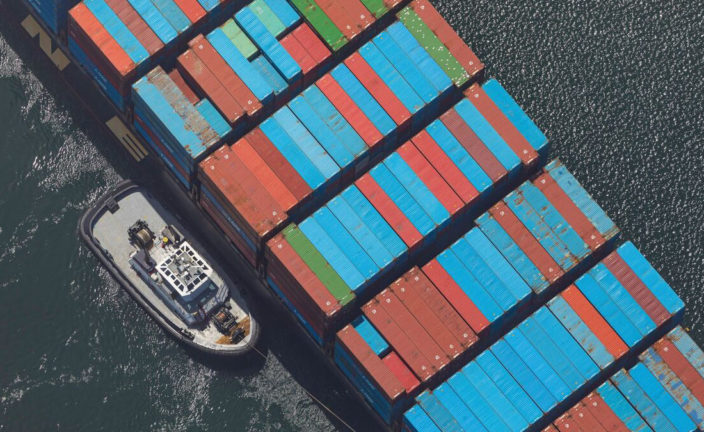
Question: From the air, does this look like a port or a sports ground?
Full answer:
What you see here is a port.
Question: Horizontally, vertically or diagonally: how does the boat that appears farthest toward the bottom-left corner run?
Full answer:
The boat that appears farthest toward the bottom-left corner has been laid out diagonally relative to the frame.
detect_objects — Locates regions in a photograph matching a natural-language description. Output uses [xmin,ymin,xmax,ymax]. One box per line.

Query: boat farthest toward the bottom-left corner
[77,185,258,359]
